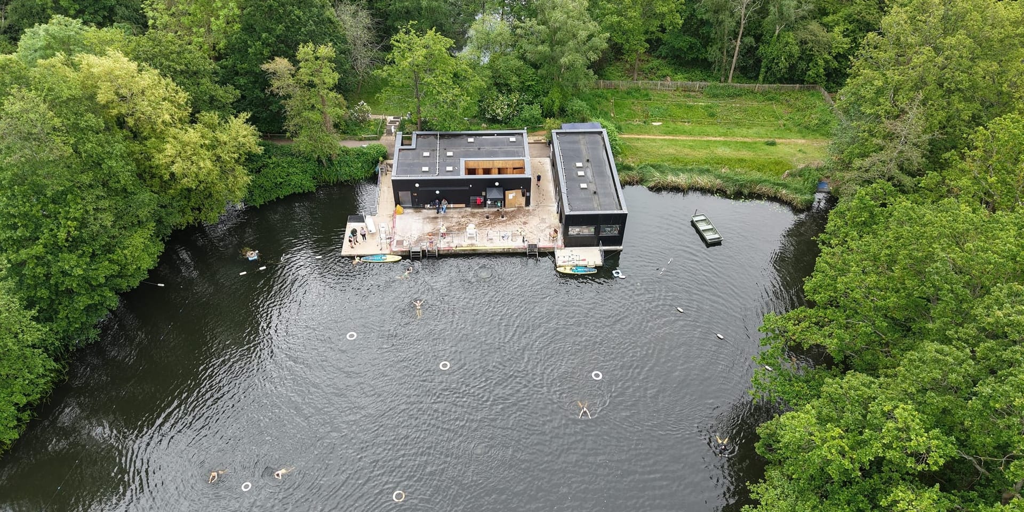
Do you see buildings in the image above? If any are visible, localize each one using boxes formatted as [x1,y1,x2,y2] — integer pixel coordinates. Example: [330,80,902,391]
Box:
[391,131,532,209]
[550,129,628,260]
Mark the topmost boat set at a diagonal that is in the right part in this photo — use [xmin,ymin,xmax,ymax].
[694,210,723,241]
